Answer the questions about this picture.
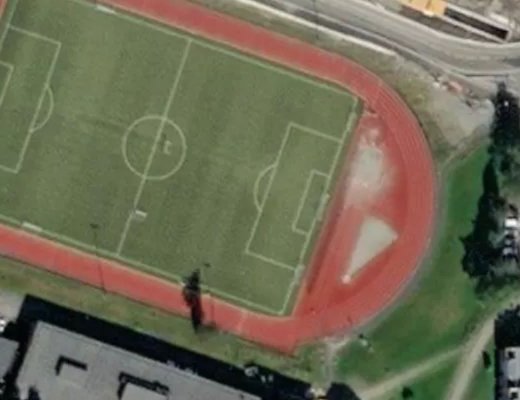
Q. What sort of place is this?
sports ground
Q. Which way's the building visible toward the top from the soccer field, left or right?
on the right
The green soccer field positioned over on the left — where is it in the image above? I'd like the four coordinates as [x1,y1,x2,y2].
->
[0,0,363,316]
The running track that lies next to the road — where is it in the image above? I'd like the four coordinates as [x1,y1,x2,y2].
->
[0,0,438,356]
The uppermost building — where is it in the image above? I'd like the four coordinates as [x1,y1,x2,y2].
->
[398,0,510,43]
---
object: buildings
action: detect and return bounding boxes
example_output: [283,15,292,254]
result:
[398,0,510,43]
[0,338,18,385]
[5,320,269,400]
[494,345,520,400]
